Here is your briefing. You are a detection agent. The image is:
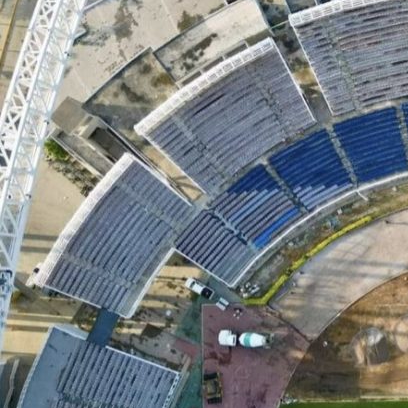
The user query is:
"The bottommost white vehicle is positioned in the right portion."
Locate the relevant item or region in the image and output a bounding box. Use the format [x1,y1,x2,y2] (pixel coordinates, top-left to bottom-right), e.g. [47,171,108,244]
[218,329,277,349]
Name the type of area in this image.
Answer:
sports ground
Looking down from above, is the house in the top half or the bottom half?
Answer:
top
